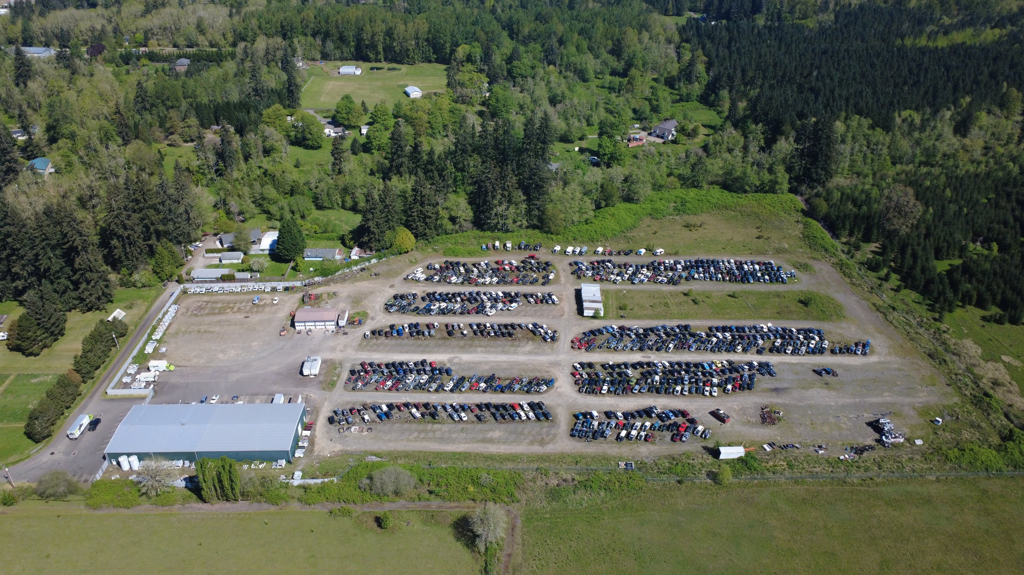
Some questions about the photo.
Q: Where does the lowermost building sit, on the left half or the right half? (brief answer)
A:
left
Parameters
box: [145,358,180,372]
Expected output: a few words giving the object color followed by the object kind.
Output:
white vehicle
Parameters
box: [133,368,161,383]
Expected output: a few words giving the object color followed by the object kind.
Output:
white vehicle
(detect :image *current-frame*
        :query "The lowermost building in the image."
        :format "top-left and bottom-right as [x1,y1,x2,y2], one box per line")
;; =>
[104,403,308,466]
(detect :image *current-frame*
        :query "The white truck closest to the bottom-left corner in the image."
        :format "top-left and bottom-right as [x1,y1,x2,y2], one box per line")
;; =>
[61,410,98,441]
